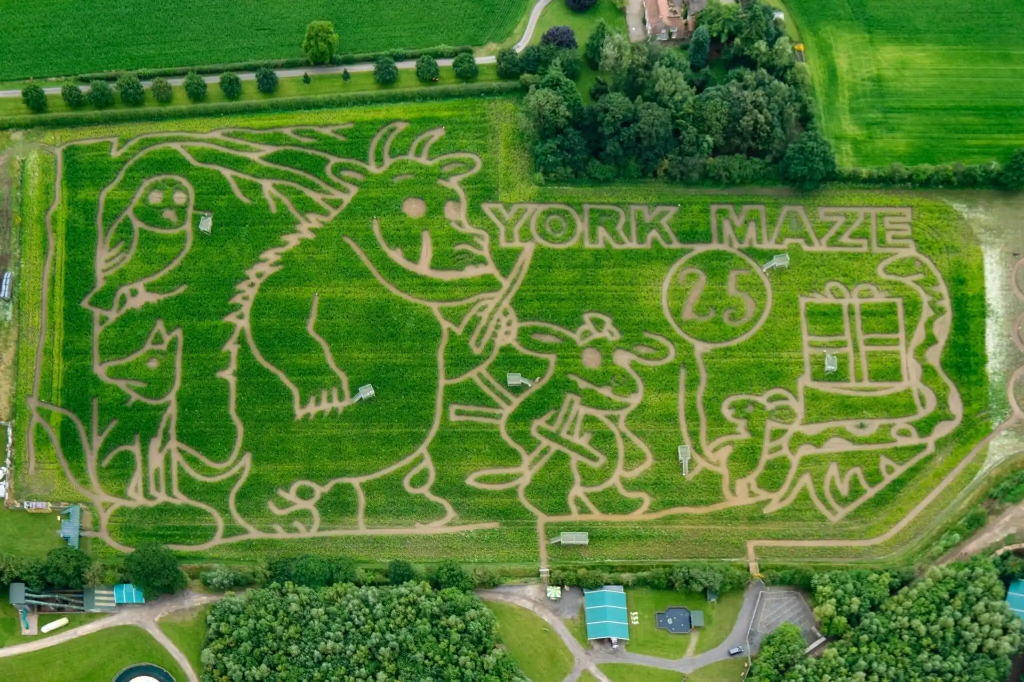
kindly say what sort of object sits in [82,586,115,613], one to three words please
building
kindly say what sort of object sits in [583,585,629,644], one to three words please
barn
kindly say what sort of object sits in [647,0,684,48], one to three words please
house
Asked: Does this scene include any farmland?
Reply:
Yes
